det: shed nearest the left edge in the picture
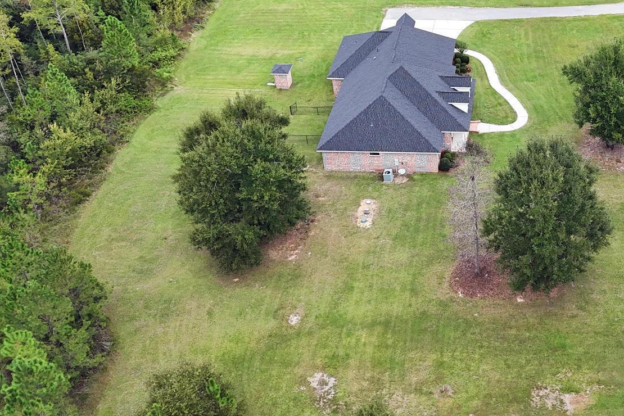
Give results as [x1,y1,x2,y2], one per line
[270,64,293,89]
